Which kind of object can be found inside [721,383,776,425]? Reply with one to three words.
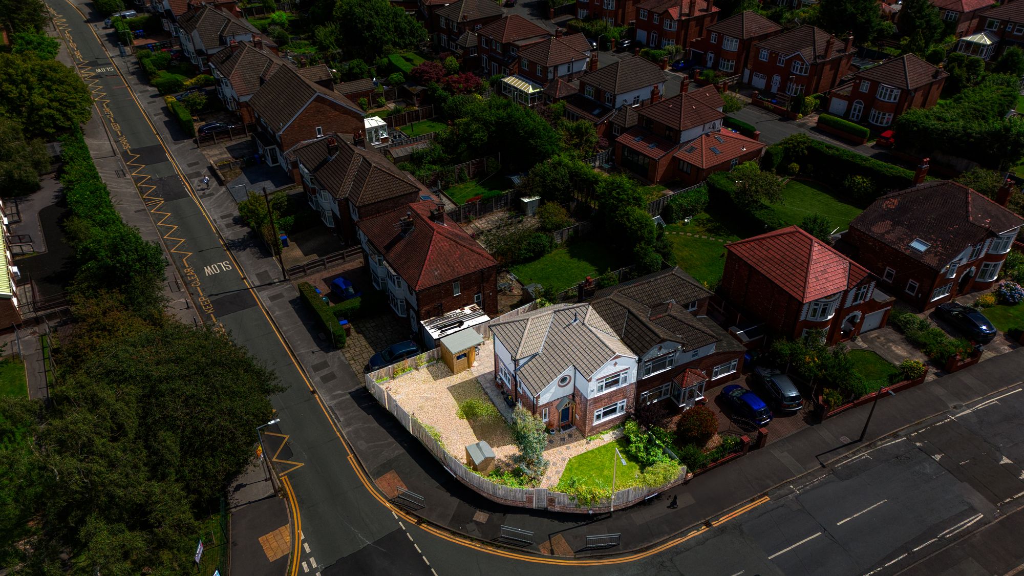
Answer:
car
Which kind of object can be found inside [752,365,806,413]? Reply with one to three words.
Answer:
car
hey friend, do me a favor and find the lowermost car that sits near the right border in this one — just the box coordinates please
[939,306,998,343]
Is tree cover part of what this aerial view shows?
Yes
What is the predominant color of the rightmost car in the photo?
black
